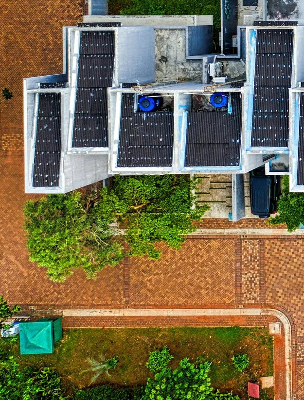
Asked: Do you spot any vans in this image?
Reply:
Yes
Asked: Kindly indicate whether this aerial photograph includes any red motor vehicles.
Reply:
No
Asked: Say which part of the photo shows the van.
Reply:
right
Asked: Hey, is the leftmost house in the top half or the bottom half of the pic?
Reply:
top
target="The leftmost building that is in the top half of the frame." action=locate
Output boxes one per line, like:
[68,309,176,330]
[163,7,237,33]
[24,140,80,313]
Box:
[23,13,232,193]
